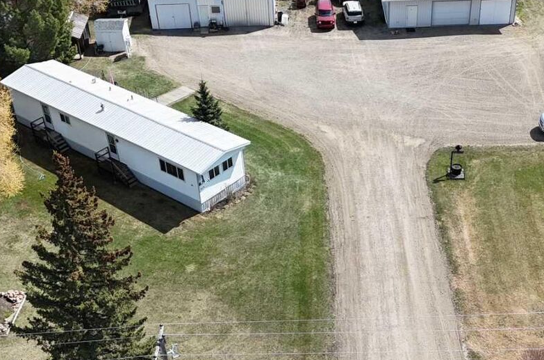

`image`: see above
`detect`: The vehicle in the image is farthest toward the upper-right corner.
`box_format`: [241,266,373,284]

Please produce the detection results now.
[340,0,363,21]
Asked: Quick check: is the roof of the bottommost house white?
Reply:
Yes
